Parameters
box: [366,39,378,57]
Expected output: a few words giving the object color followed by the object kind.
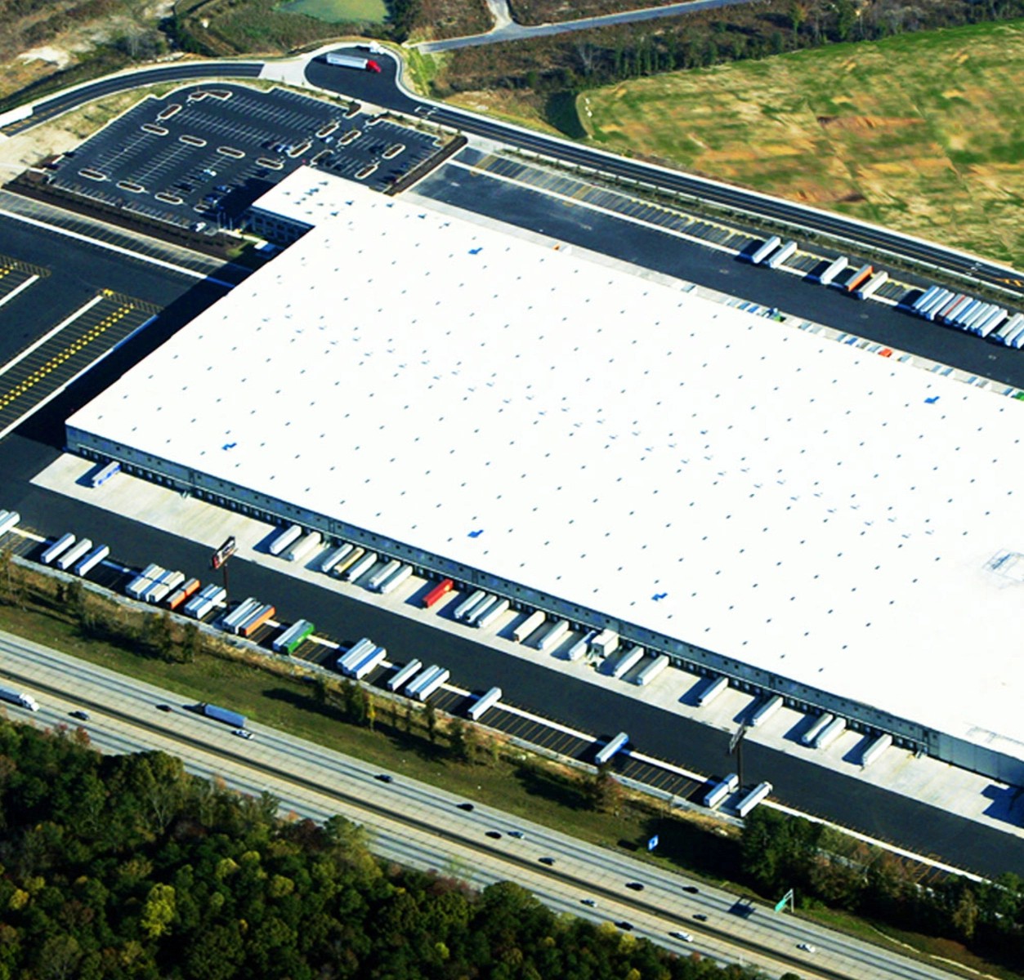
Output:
white vehicle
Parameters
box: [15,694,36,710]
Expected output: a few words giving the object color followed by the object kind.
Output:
white vehicle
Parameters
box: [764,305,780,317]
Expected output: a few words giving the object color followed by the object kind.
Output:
blue vehicle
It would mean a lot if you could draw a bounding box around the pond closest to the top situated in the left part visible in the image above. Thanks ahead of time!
[276,0,389,24]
